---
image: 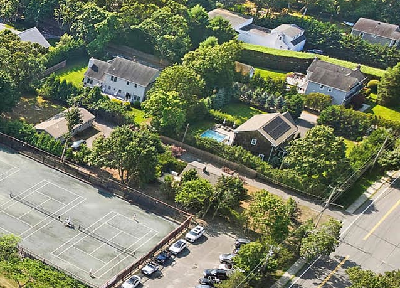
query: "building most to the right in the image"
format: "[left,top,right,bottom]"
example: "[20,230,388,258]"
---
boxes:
[344,14,400,53]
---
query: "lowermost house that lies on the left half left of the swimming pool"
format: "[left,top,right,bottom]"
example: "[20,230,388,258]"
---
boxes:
[27,107,102,141]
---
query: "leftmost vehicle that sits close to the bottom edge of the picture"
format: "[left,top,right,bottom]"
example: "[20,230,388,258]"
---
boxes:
[120,275,142,288]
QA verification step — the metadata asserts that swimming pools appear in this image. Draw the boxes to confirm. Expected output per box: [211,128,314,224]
[188,129,232,152]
